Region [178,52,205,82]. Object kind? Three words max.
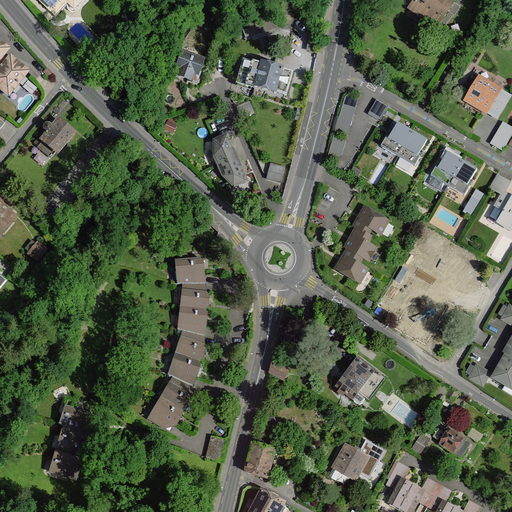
house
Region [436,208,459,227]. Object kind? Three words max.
swimming pool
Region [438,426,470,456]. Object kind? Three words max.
house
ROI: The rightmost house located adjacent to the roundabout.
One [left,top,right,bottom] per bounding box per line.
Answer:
[334,204,390,283]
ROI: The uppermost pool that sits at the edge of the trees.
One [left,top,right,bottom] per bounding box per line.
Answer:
[69,22,92,42]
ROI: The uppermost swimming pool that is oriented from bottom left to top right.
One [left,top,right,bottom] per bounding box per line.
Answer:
[18,94,34,111]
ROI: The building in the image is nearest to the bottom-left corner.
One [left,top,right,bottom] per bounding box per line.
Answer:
[44,405,84,480]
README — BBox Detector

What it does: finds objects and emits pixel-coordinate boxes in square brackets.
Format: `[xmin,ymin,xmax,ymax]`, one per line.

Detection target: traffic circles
[248,226,310,290]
